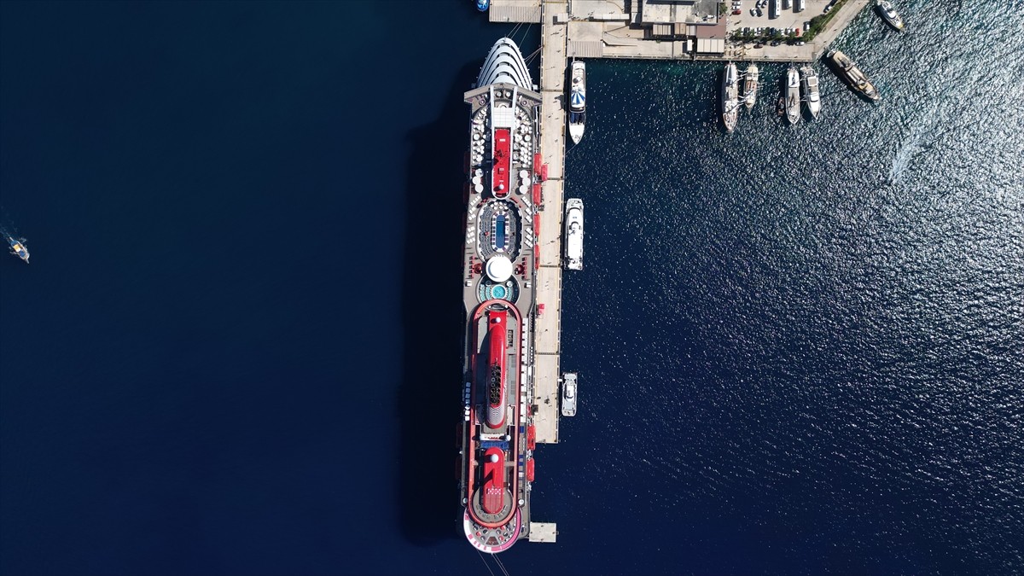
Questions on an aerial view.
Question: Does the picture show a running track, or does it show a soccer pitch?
running track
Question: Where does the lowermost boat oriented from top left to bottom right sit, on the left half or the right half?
left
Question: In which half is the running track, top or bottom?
bottom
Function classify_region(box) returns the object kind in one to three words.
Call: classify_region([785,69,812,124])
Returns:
boat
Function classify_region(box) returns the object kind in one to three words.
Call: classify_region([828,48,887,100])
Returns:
boat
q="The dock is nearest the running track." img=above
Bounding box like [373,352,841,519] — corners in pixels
[535,0,569,443]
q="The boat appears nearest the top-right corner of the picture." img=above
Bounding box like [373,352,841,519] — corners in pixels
[871,0,906,32]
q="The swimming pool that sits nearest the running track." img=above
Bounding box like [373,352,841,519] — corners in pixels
[489,284,509,299]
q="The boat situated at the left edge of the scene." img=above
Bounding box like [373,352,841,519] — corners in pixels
[9,237,30,265]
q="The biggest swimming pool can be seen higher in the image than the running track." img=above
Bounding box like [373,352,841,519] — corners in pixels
[491,211,510,253]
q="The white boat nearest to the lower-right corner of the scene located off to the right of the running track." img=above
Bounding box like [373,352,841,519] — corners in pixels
[561,372,577,417]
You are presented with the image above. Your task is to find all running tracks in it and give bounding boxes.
[470,300,521,524]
